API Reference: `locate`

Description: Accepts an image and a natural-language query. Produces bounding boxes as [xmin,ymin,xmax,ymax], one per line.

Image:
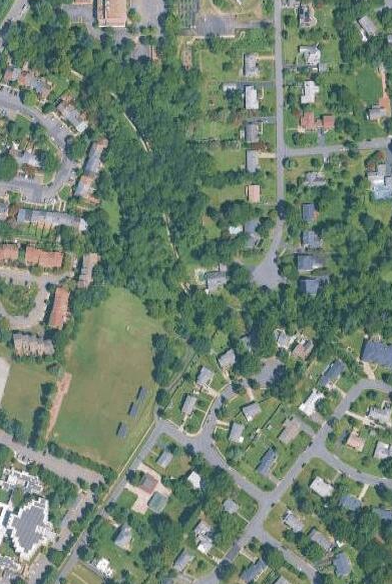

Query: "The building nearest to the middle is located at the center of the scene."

[204,265,227,290]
